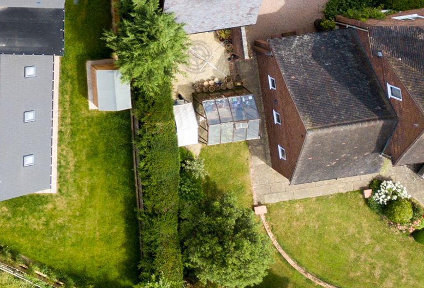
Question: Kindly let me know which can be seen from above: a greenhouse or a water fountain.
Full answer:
It is a greenhouse that can be seen here.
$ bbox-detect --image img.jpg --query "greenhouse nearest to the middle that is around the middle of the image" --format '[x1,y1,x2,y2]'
[193,90,261,146]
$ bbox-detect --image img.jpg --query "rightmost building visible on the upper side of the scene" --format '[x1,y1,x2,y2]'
[247,13,424,187]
